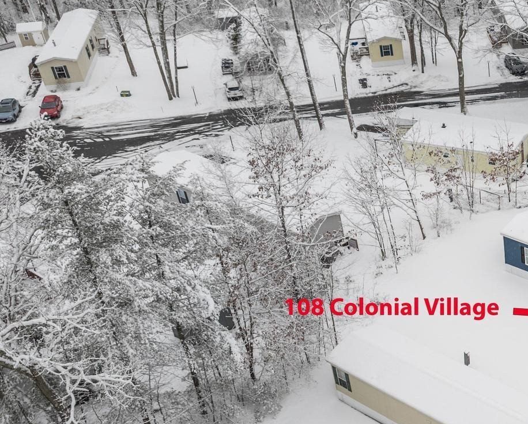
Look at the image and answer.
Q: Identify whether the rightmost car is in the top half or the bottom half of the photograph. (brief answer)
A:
top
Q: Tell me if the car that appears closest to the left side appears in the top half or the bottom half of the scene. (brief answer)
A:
top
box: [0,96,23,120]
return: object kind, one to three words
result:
car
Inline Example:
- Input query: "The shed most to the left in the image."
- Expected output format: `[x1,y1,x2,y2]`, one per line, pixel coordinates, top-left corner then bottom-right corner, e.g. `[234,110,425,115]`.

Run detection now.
[13,21,50,46]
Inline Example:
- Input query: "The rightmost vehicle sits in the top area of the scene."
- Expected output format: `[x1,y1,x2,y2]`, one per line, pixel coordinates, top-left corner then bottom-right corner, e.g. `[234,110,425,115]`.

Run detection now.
[504,50,528,74]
